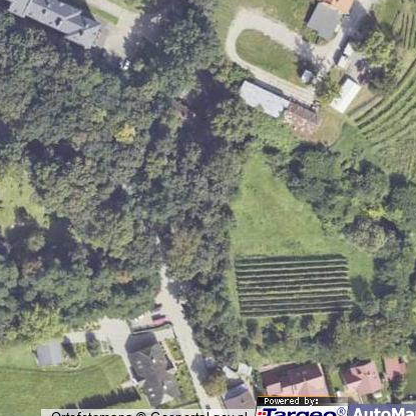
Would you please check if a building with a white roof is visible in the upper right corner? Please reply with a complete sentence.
Yes, a building with a white roof appears in the upper right corner.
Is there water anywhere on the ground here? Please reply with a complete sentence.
No, the scene doesn't show any water.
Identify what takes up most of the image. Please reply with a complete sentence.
The scene is dominated by trees.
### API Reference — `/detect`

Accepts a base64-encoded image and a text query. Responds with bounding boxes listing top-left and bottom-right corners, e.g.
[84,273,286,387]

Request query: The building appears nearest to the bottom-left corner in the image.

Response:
[36,343,65,368]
